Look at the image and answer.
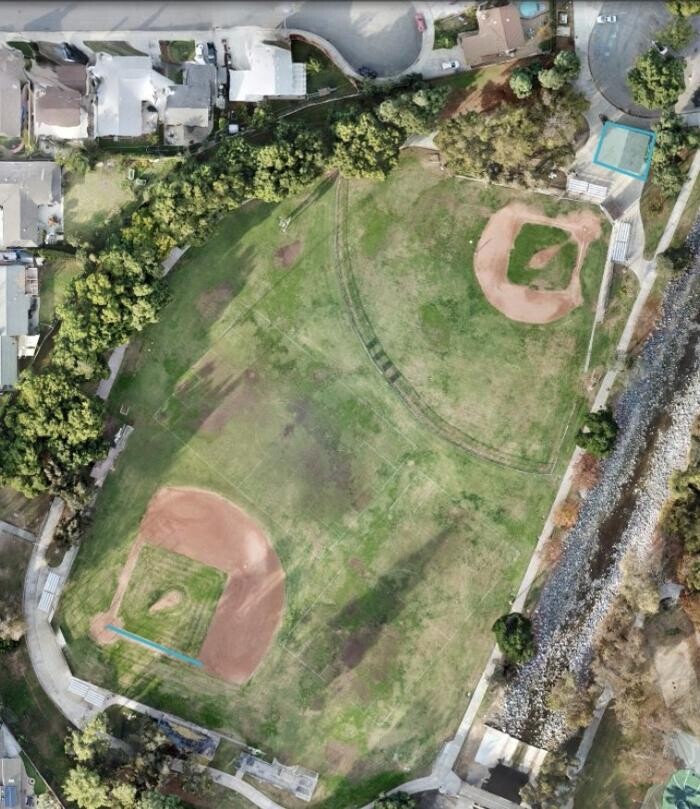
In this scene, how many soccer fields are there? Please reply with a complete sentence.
There are 2 soccer fields in the image.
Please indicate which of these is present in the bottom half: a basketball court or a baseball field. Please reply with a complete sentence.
It is a baseball field that can be seen in the bottom half.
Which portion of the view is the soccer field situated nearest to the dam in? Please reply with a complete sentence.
The soccer field situated nearest to the dam sits in the bottom section of the image.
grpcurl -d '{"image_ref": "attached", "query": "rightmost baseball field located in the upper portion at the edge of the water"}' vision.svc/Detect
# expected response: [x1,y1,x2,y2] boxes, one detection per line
[337,160,610,472]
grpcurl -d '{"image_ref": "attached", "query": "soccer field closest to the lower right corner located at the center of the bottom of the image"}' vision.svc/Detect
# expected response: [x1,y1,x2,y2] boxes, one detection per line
[283,474,520,722]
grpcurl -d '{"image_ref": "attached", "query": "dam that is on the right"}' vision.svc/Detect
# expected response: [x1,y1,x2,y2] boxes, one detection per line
[474,728,551,809]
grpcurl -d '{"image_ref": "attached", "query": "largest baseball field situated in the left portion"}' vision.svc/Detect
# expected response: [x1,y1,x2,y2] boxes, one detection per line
[60,460,307,726]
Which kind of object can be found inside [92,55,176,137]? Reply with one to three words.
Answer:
house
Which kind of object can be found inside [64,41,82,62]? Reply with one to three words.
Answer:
car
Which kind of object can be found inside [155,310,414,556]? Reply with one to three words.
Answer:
soccer field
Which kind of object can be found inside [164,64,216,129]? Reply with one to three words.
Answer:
house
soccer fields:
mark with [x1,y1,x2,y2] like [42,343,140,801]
[283,474,520,722]
[155,310,414,556]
